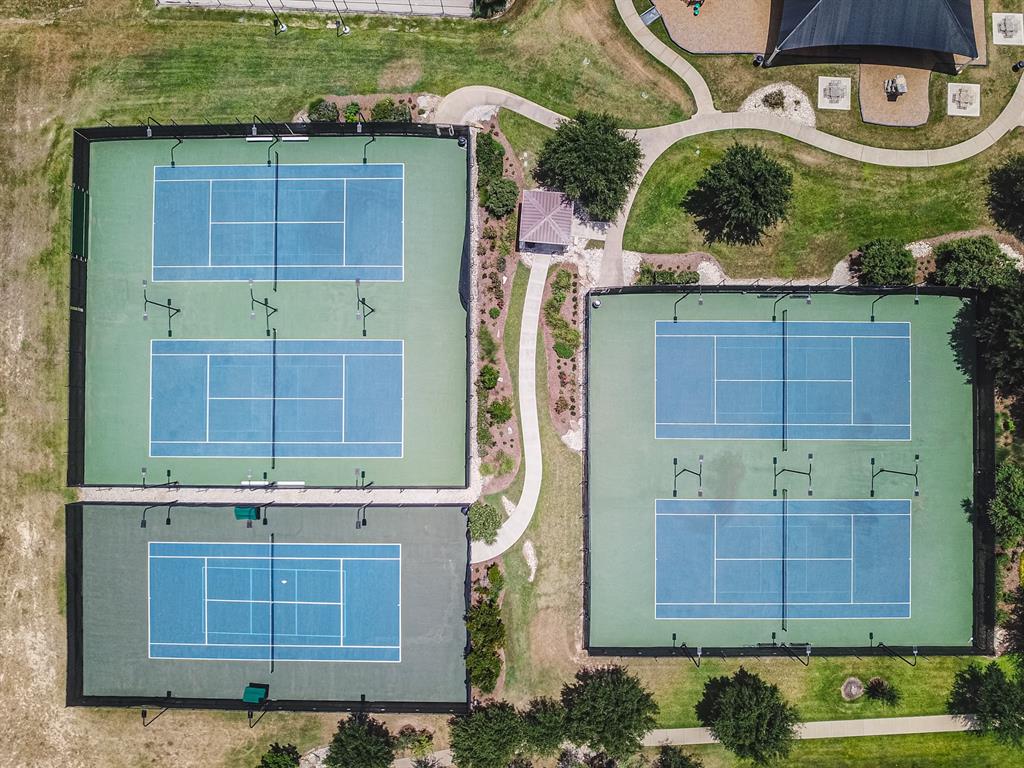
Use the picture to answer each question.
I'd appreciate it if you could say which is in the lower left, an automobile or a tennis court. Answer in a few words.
tennis court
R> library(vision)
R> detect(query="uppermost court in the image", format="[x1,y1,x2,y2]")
[152,163,404,281]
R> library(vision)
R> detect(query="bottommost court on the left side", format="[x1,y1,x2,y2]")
[148,542,401,663]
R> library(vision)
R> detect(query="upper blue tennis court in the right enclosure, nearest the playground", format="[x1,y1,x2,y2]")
[655,321,912,440]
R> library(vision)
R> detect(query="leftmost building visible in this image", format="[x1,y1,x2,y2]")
[518,189,575,252]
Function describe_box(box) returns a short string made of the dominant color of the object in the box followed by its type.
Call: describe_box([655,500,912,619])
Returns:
blue tennis court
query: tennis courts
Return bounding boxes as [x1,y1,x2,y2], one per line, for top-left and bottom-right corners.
[148,542,401,663]
[152,163,404,281]
[149,340,404,458]
[655,500,912,619]
[655,321,912,440]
